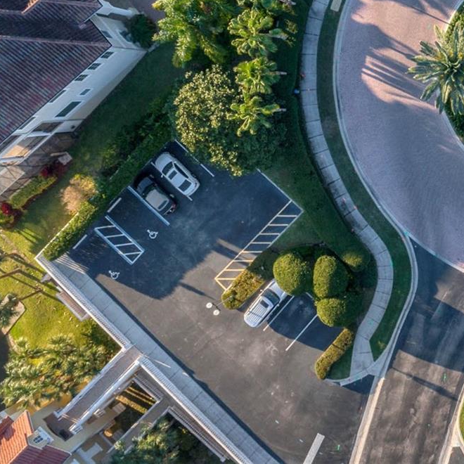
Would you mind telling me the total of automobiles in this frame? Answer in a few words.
3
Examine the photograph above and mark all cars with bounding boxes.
[136,172,180,219]
[243,281,285,328]
[156,150,201,198]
